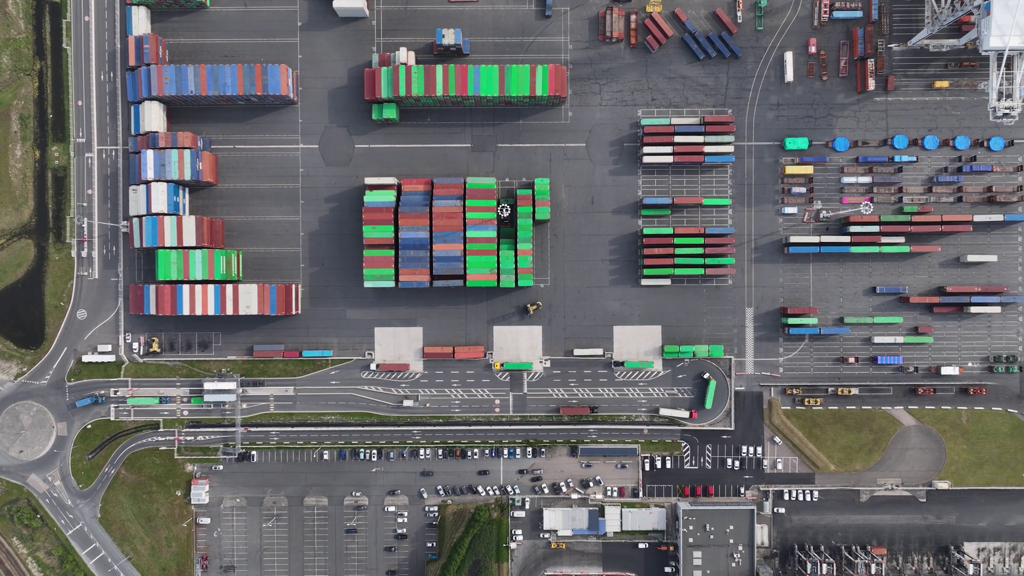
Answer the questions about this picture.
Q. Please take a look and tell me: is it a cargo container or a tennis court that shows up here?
cargo container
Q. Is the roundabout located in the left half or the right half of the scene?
left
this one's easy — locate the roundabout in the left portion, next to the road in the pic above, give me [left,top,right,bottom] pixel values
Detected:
[0,376,80,485]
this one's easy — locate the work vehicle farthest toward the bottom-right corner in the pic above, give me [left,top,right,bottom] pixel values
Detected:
[951,546,986,576]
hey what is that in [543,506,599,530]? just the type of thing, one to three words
building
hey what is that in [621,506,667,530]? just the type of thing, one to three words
building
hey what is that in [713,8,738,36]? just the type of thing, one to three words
shipping container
